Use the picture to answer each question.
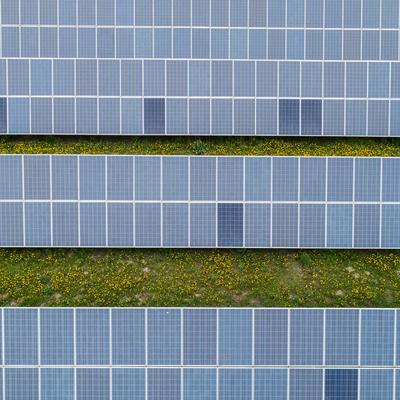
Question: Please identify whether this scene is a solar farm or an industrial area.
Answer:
solar farm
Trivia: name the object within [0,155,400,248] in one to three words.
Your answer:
solar array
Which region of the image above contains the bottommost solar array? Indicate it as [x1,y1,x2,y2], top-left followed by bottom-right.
[0,307,400,400]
